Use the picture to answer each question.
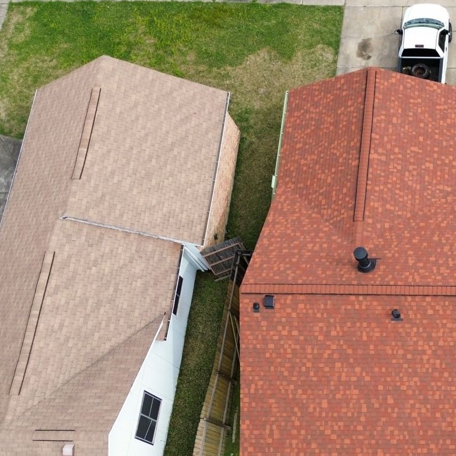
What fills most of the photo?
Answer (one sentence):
Most of the picture is covered by buildings.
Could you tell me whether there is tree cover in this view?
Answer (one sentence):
No, there's no tree cover in this view.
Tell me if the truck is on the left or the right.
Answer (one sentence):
The truck sits on the right side.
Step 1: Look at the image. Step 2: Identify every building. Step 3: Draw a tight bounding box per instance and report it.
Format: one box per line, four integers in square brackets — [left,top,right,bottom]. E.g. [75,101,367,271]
[239,68,456,456]
[0,59,239,456]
